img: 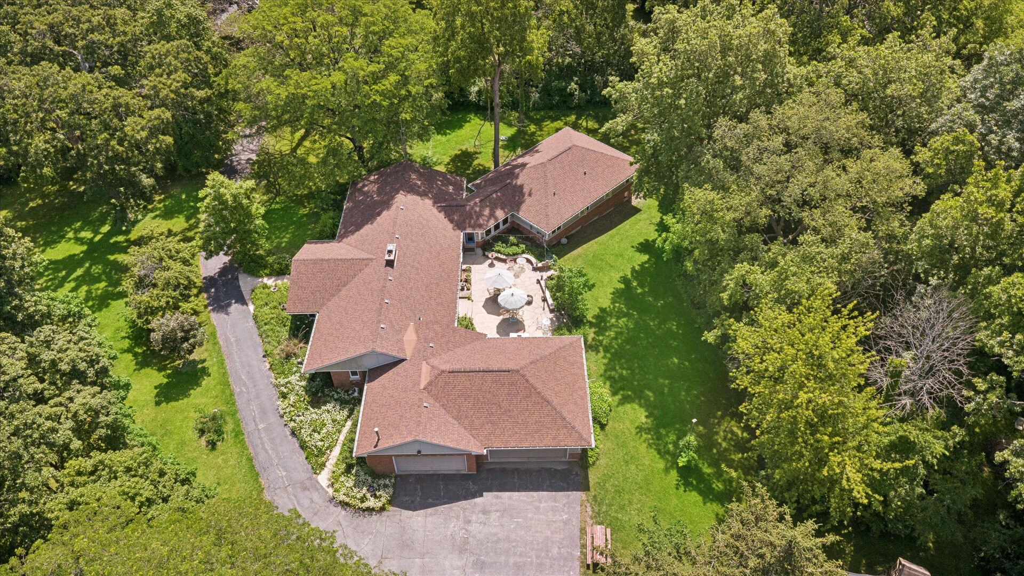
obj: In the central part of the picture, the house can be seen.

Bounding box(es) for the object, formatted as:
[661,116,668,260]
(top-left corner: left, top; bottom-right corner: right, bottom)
[286,126,636,479]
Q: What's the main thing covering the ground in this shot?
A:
trees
